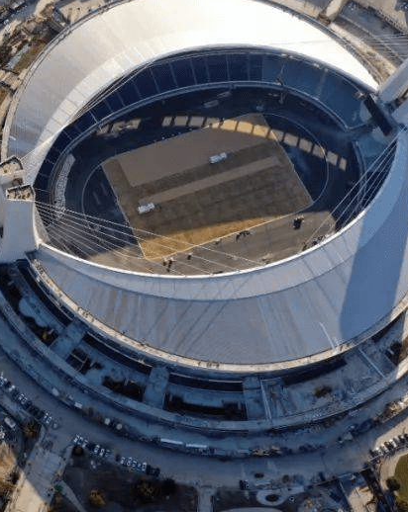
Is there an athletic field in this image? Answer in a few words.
Yes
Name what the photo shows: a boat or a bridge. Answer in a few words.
bridge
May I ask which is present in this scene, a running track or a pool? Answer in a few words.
running track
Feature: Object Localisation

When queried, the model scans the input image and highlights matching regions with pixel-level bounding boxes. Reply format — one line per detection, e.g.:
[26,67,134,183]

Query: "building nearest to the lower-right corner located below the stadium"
[336,473,378,512]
